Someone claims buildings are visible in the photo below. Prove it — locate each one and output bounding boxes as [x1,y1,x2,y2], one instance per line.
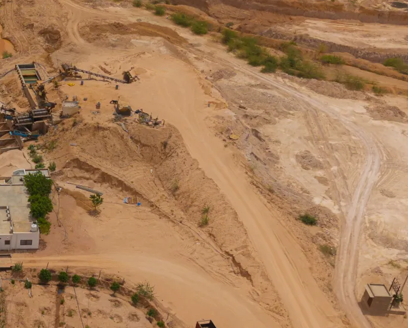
[0,184,39,250]
[362,282,407,313]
